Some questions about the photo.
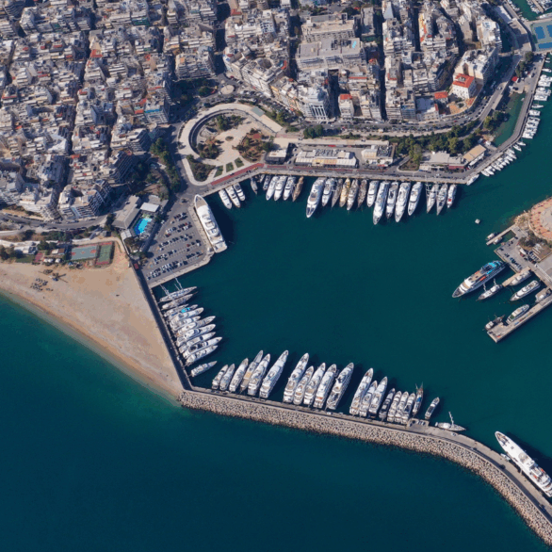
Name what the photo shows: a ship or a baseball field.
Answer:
ship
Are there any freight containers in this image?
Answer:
No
